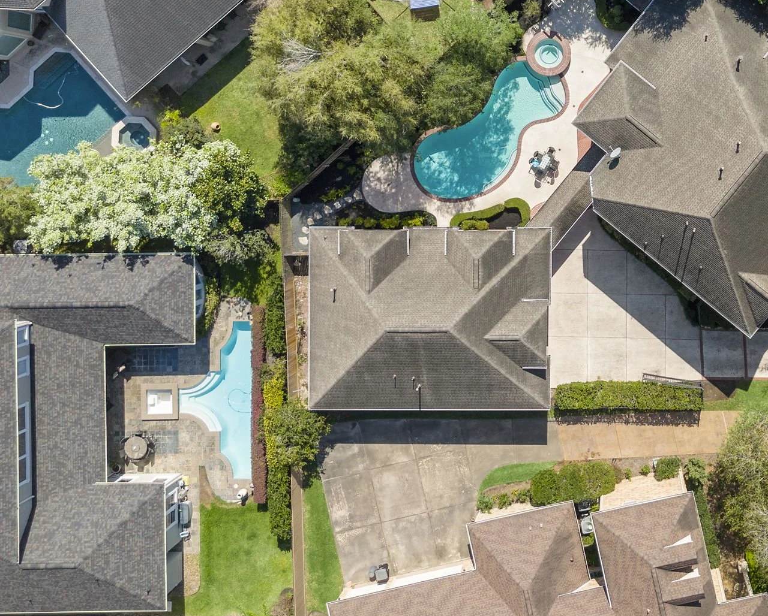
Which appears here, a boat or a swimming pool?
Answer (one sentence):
The one in the frame is a swimming pool.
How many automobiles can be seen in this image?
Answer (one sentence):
The picture shows no automobiles.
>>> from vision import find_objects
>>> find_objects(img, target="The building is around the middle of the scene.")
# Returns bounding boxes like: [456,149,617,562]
[307,224,553,411]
